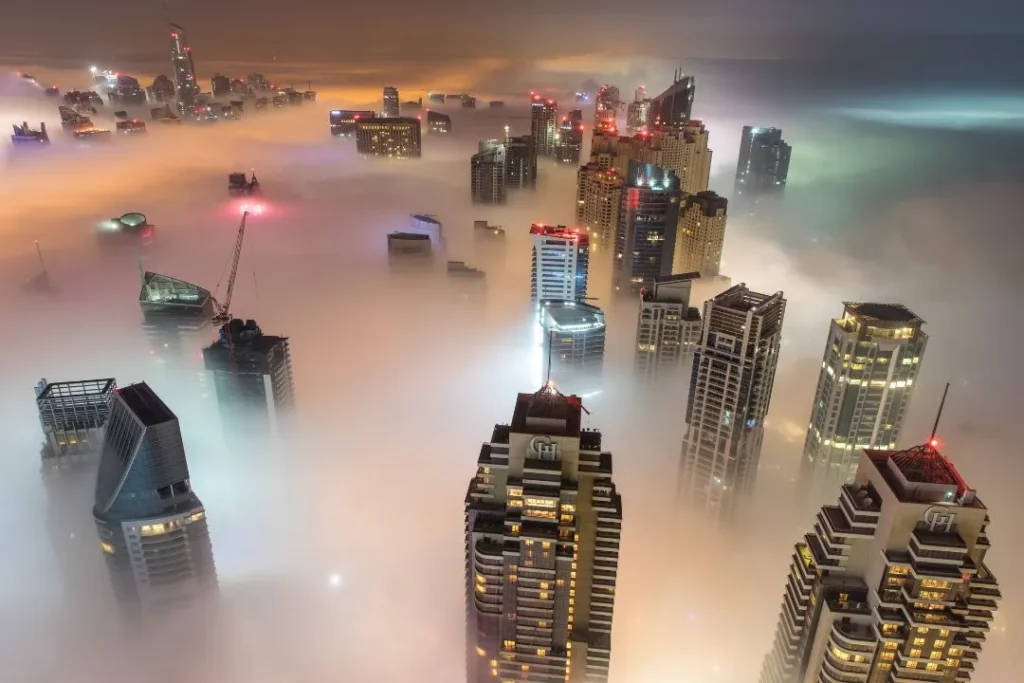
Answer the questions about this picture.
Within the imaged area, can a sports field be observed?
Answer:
No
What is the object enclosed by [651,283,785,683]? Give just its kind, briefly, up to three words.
building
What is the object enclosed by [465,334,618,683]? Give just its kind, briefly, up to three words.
building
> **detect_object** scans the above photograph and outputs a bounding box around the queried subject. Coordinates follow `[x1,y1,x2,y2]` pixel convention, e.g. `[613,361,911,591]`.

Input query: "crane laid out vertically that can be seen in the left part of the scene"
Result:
[207,210,257,378]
